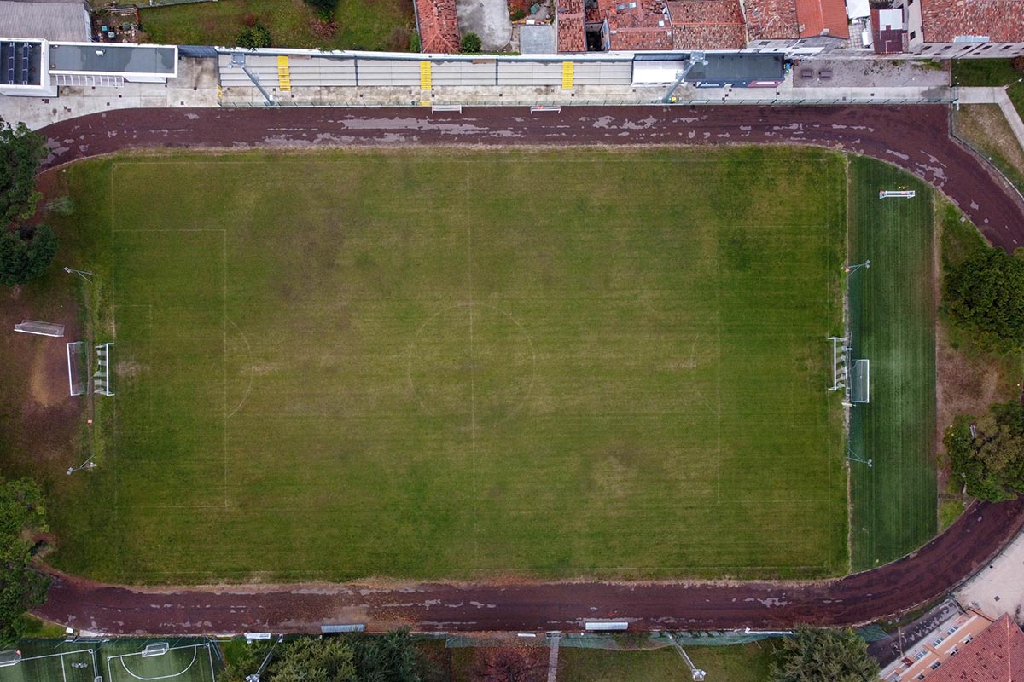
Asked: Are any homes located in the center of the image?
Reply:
No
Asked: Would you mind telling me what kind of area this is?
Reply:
sports ground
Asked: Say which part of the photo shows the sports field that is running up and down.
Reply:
right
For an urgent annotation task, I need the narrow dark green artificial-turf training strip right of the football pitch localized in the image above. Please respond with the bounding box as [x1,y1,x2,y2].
[845,150,938,577]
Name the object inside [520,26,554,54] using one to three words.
shed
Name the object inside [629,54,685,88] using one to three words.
building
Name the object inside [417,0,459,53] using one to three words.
house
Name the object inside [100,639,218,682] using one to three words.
sports field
